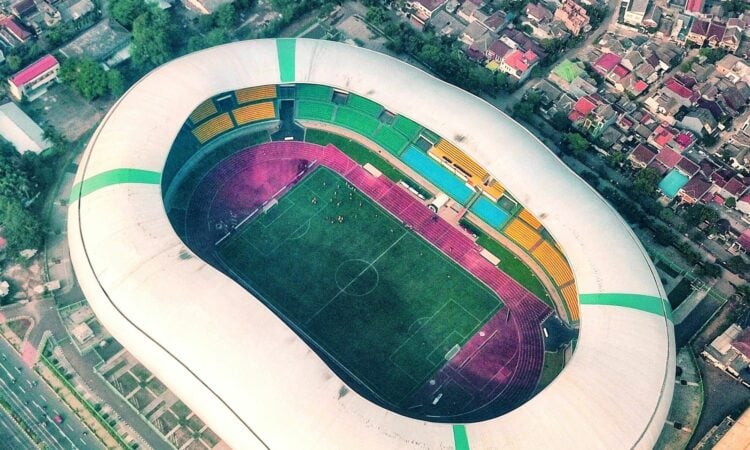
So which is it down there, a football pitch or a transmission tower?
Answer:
football pitch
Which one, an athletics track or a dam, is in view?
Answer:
athletics track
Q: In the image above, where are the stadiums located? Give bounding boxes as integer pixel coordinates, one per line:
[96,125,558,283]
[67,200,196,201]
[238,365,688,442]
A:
[67,37,677,450]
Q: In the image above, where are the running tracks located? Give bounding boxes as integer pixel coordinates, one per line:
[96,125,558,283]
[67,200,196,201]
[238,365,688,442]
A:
[179,136,554,423]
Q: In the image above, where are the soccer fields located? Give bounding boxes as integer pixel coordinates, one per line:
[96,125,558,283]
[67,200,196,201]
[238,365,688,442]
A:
[213,166,502,407]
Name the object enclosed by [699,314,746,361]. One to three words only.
house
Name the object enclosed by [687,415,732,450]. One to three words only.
building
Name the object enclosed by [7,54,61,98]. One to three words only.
building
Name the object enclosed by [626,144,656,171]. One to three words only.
house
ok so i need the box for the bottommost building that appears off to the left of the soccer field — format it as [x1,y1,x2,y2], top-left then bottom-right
[64,320,93,347]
